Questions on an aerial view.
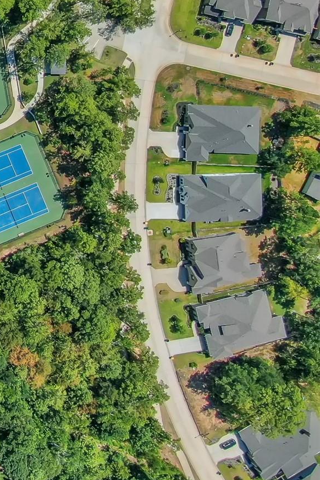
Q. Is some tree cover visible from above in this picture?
Yes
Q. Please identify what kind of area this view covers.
residential area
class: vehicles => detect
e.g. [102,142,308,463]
[227,22,235,36]
[221,440,236,450]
